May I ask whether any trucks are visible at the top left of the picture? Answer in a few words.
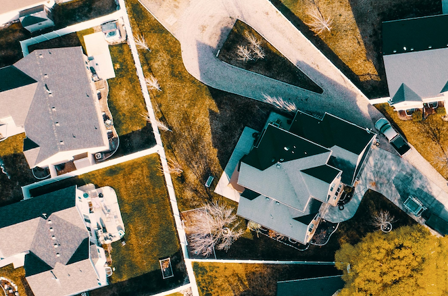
No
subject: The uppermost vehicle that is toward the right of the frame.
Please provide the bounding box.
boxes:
[374,119,413,158]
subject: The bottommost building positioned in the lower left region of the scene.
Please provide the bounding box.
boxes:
[0,185,114,296]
